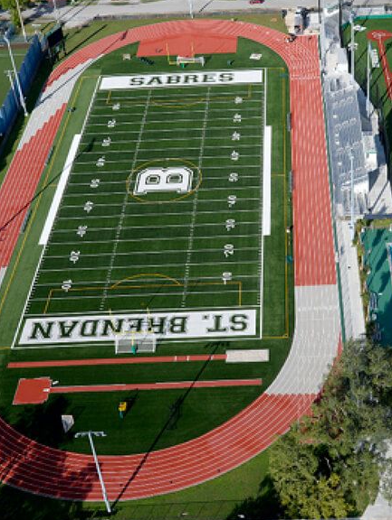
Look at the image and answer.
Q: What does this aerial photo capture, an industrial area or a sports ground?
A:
sports ground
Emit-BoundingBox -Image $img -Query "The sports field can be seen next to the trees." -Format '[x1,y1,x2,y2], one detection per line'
[14,69,267,346]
